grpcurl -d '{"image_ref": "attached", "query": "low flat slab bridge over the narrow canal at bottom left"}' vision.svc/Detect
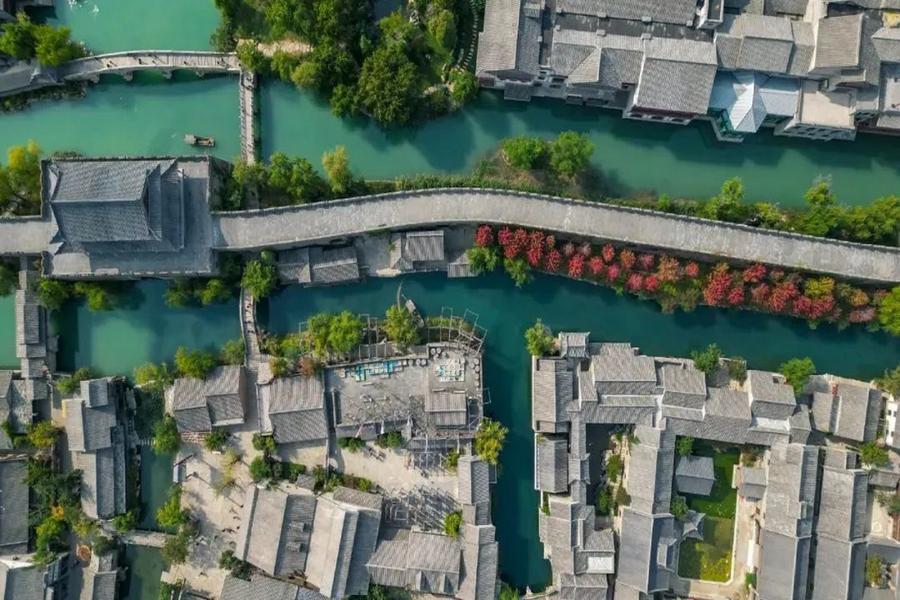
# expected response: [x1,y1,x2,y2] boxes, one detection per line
[115,530,177,548]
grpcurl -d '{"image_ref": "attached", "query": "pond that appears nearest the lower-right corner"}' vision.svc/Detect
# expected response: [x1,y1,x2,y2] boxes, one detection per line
[678,516,737,583]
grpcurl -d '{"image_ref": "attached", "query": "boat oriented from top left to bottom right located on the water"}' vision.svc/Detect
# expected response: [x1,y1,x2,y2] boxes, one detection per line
[403,290,425,327]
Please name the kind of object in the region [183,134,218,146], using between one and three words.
boat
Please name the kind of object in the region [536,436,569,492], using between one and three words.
house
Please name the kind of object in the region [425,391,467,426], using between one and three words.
shed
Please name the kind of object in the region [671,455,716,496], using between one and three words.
building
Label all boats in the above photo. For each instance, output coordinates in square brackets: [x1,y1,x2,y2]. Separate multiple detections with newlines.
[403,290,425,327]
[183,134,218,146]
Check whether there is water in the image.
Yes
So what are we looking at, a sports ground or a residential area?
residential area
